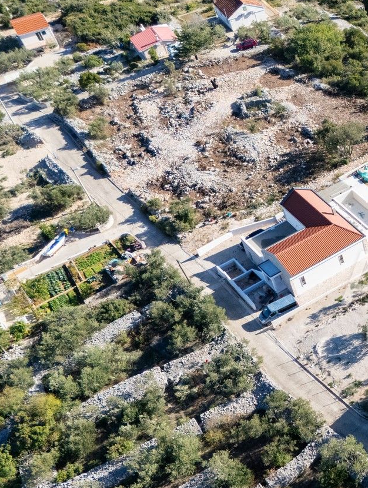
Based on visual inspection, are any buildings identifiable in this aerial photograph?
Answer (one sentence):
Yes, a building can be made out from above.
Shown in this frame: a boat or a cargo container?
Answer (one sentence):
Of the two, only a boat appears.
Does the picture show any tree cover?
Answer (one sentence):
Yes, some tree cover is visible.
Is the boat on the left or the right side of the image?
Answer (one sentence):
It is on the left.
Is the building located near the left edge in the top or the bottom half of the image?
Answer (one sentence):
The building located near the left edge is in the top half of the image.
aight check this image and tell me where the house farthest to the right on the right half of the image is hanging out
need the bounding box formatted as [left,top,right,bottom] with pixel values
[254,187,368,296]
